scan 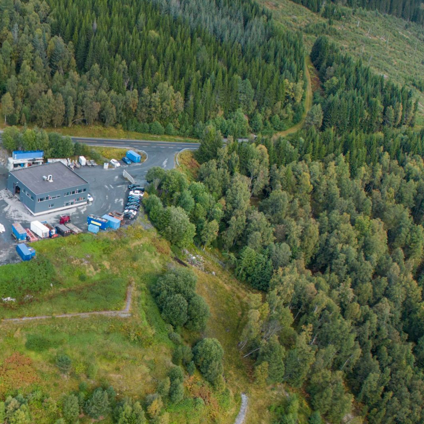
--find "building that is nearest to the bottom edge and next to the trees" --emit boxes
[0,164,90,216]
